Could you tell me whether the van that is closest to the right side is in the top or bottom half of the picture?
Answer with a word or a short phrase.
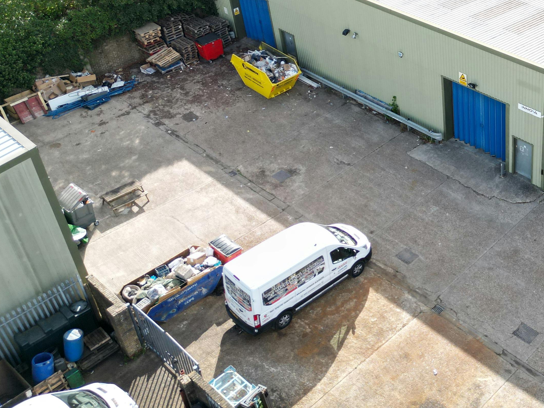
bottom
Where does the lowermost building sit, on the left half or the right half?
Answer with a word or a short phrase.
left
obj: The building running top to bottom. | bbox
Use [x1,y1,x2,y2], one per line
[0,113,90,326]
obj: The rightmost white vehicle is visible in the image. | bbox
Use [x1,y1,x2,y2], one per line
[216,217,374,343]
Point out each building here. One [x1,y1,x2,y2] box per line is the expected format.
[224,0,544,190]
[0,113,90,326]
